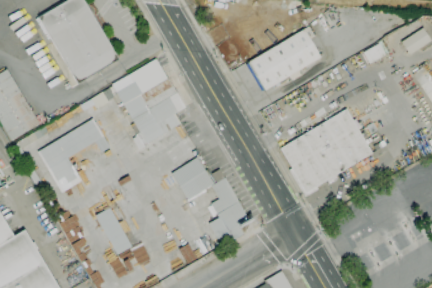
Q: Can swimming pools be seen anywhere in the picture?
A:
No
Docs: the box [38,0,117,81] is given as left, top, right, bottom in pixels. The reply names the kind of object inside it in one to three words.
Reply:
building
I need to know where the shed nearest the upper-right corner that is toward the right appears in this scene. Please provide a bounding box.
[401,28,432,54]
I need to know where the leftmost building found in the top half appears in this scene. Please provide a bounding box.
[0,70,40,142]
